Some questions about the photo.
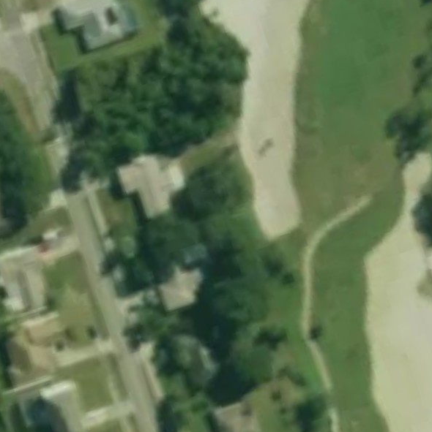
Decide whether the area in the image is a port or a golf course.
golf course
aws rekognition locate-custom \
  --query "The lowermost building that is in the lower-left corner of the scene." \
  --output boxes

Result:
[26,378,85,432]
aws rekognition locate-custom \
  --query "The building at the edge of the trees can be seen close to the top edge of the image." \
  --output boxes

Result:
[53,0,142,53]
